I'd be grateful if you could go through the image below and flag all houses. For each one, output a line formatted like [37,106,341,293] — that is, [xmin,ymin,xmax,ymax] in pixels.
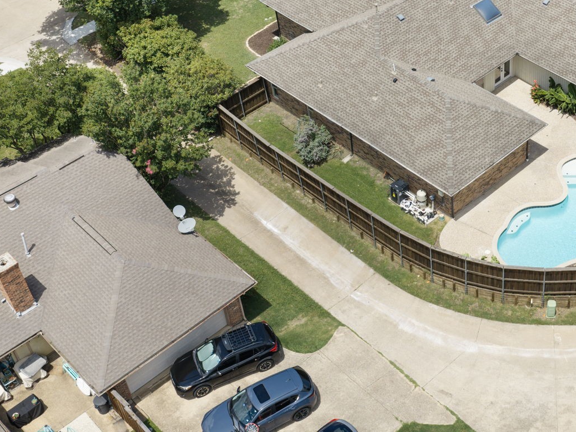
[244,0,576,225]
[0,127,261,432]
